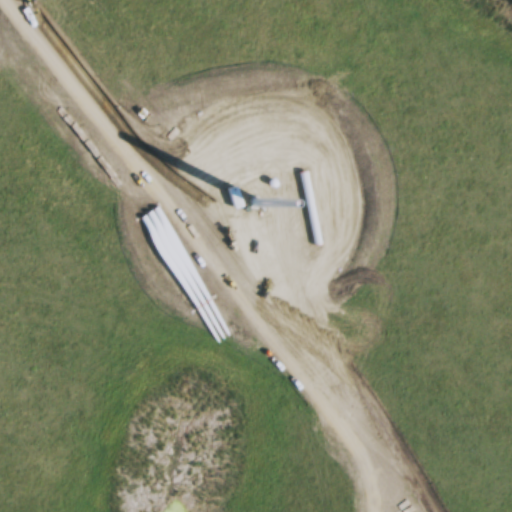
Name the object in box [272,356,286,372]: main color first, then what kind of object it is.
white vehicle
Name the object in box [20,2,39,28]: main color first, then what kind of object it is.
white vehicle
